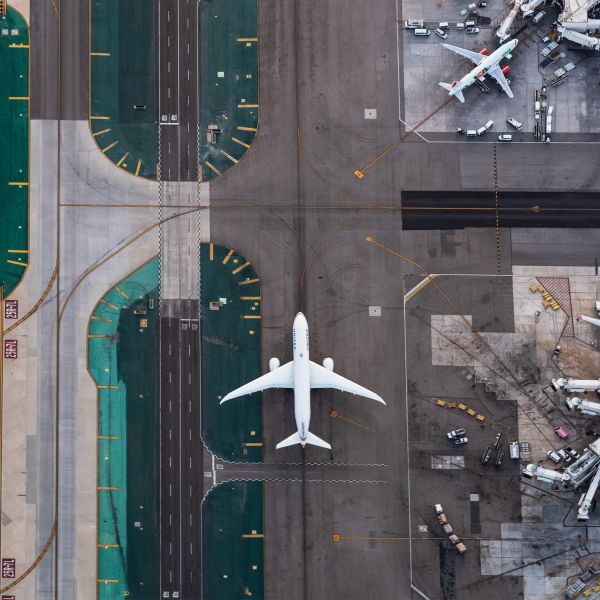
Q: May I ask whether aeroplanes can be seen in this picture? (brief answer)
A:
Yes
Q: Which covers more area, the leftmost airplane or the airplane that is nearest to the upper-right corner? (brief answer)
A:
the leftmost airplane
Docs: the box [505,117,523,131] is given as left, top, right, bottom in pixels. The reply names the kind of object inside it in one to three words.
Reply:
vehicle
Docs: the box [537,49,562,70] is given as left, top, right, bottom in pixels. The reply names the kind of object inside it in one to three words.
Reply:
work vehicle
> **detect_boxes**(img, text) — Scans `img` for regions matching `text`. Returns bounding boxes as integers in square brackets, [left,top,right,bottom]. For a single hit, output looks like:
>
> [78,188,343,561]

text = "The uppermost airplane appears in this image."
[442,40,517,104]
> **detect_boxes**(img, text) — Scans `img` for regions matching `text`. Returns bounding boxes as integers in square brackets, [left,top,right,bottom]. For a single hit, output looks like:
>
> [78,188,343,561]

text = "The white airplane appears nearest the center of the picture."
[219,312,384,451]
